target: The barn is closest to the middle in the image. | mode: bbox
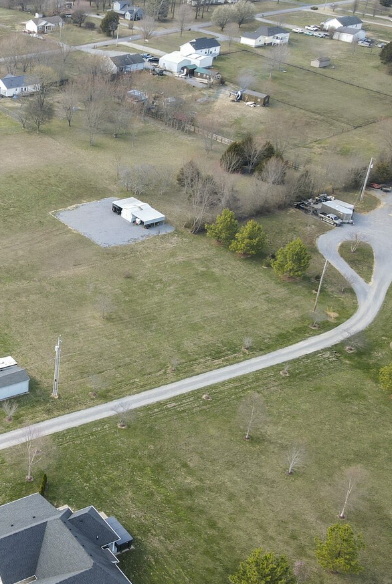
[109,197,166,230]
